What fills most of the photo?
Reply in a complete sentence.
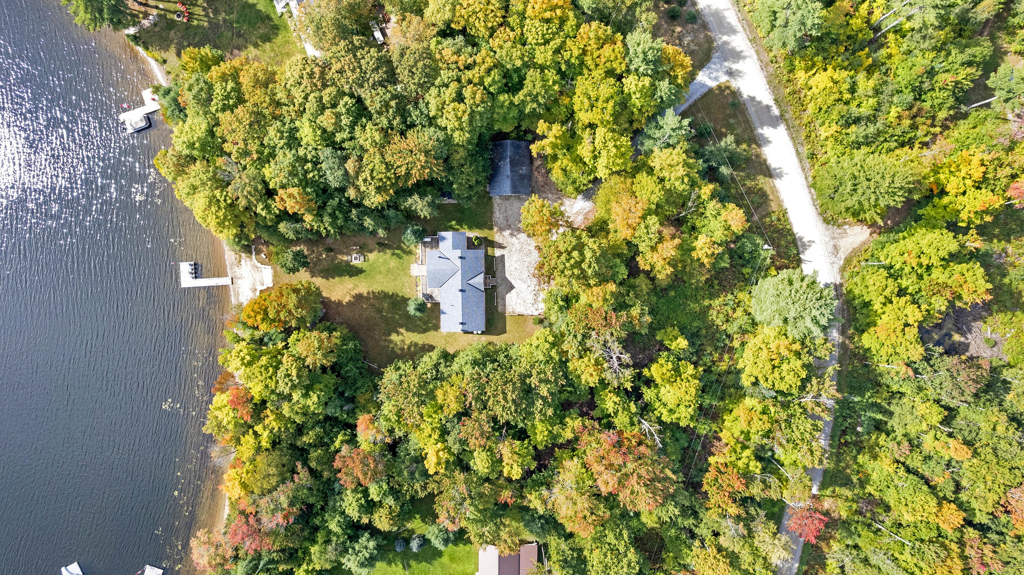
The largest share of the image is taken up by trees.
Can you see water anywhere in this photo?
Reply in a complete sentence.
Yes, there is water in the image.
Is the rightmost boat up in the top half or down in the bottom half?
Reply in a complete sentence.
The rightmost boat sits in the top half of the picture.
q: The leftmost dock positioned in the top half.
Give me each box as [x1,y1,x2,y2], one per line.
[119,88,162,122]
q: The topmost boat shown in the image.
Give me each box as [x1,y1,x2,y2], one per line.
[120,114,154,135]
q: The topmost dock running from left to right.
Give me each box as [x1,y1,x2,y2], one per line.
[179,262,232,287]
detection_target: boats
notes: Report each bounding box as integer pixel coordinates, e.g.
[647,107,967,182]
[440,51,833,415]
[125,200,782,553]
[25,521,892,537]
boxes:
[120,114,154,135]
[61,560,86,575]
